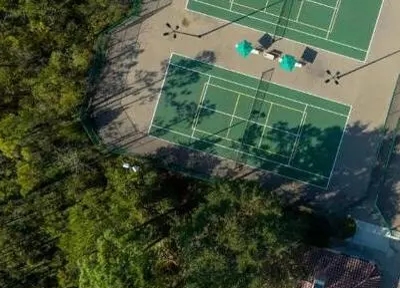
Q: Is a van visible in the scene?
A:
No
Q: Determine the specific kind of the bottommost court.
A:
tennis court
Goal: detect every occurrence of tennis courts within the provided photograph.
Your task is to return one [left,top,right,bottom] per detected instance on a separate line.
[149,54,350,188]
[186,0,382,61]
